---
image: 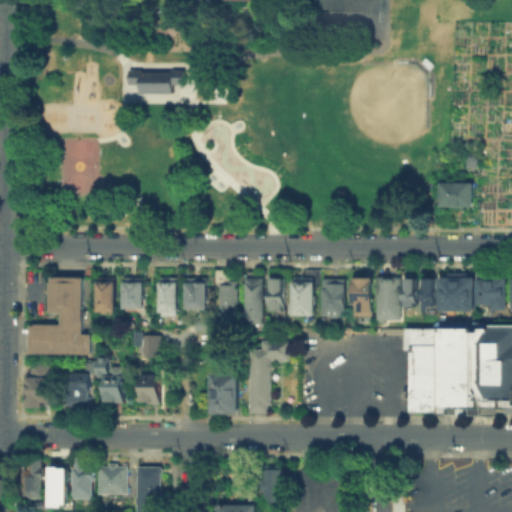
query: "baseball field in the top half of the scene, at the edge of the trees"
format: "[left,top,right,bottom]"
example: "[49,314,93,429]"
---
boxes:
[350,62,431,148]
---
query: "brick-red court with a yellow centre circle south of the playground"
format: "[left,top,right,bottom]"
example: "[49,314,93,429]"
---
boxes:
[62,138,100,196]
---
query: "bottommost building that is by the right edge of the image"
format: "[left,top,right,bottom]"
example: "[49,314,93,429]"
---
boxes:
[403,326,512,414]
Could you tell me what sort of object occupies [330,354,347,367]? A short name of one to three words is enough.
vehicle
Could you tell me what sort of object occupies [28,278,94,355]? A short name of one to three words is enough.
building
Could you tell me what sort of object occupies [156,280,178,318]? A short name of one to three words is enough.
house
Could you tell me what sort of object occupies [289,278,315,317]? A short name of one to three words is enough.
house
